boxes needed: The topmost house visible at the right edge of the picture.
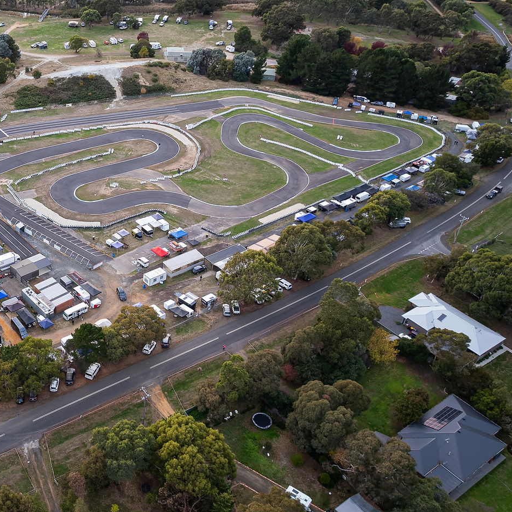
[401,292,506,362]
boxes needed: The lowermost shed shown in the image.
[336,493,383,512]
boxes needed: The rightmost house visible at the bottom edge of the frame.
[398,393,508,501]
